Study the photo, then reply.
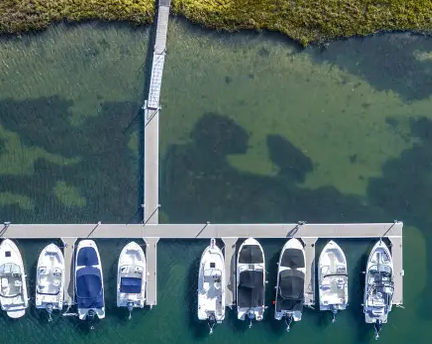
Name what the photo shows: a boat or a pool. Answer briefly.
boat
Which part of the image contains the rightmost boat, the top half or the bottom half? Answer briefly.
bottom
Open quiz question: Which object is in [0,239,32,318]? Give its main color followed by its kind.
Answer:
white boat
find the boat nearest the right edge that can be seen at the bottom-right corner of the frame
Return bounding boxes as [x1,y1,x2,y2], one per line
[358,236,392,334]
